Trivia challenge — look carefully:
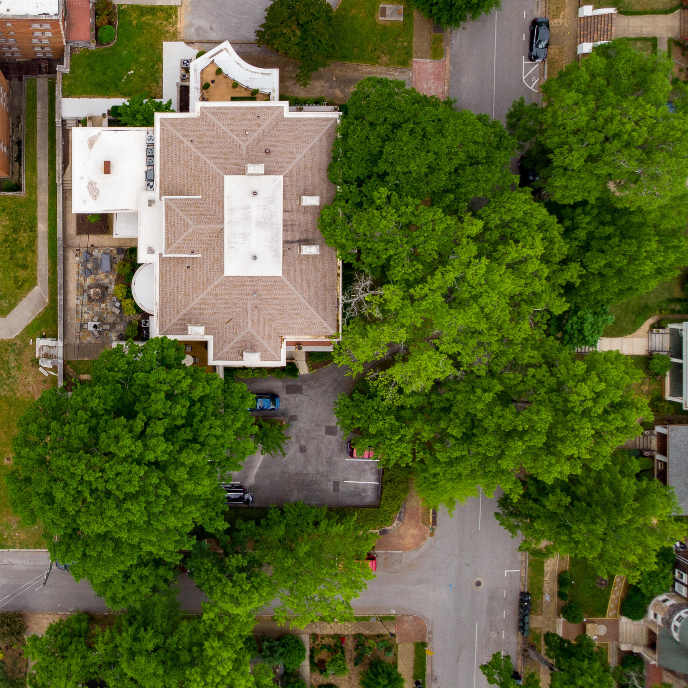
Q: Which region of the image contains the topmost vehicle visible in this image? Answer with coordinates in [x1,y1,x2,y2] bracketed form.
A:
[527,17,549,62]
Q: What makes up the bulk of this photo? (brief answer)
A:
trees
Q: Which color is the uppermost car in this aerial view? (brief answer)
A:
black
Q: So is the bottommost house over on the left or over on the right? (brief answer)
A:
right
